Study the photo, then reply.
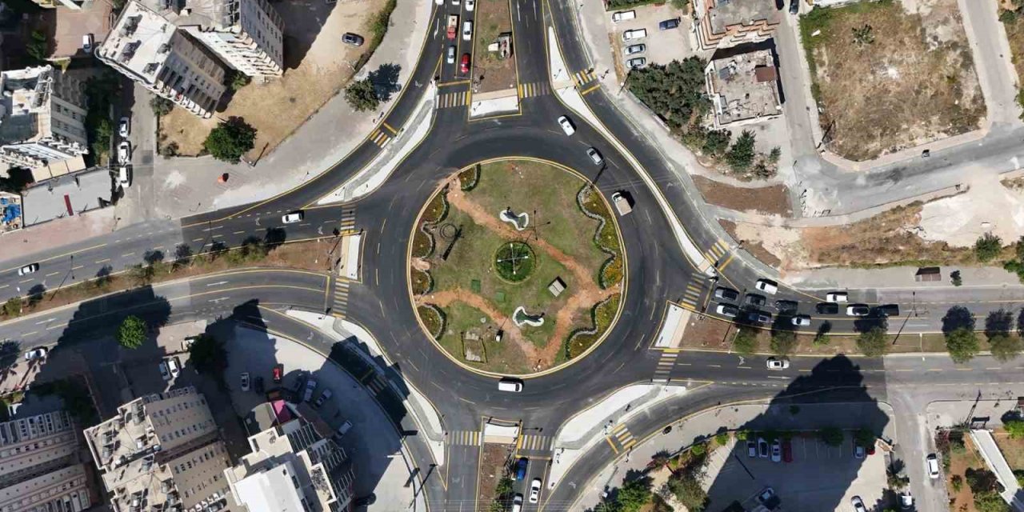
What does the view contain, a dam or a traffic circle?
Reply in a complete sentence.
The one in the frame is a traffic circle.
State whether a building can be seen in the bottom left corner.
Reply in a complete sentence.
Yes, I can see a building in the bottom left corner.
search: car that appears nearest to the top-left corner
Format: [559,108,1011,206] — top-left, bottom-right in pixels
[81,33,93,53]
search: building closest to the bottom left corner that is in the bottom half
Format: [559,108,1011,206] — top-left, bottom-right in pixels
[0,411,97,512]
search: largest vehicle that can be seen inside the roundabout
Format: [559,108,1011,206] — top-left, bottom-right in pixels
[611,190,633,220]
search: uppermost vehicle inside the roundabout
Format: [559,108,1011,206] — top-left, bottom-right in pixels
[557,116,576,136]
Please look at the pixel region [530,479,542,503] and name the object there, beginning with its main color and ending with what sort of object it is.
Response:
white vehicle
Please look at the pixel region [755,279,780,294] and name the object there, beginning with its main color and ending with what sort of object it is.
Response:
white vehicle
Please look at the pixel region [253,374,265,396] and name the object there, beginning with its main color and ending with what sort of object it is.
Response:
black vehicle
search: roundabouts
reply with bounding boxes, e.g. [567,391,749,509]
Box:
[352,107,681,427]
